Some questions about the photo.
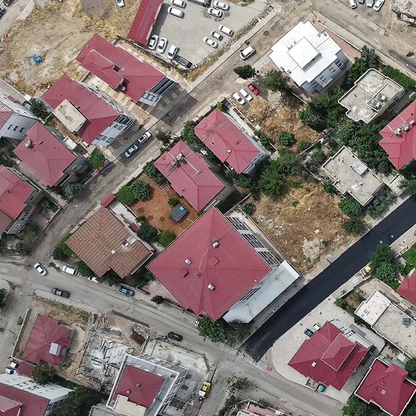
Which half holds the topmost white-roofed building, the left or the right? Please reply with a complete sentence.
The topmost white-roofed building sits on the right side.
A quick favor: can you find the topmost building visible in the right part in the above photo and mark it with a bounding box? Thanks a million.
[268,21,346,90]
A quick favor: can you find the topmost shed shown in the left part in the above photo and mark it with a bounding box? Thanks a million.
[127,0,169,46]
